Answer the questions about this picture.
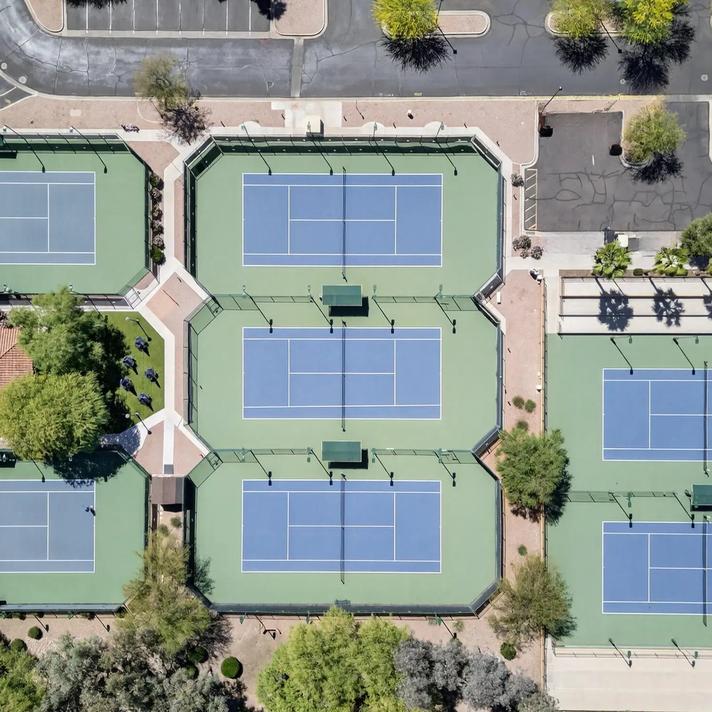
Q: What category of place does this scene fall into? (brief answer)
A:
sports ground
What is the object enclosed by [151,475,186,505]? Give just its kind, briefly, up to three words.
shed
